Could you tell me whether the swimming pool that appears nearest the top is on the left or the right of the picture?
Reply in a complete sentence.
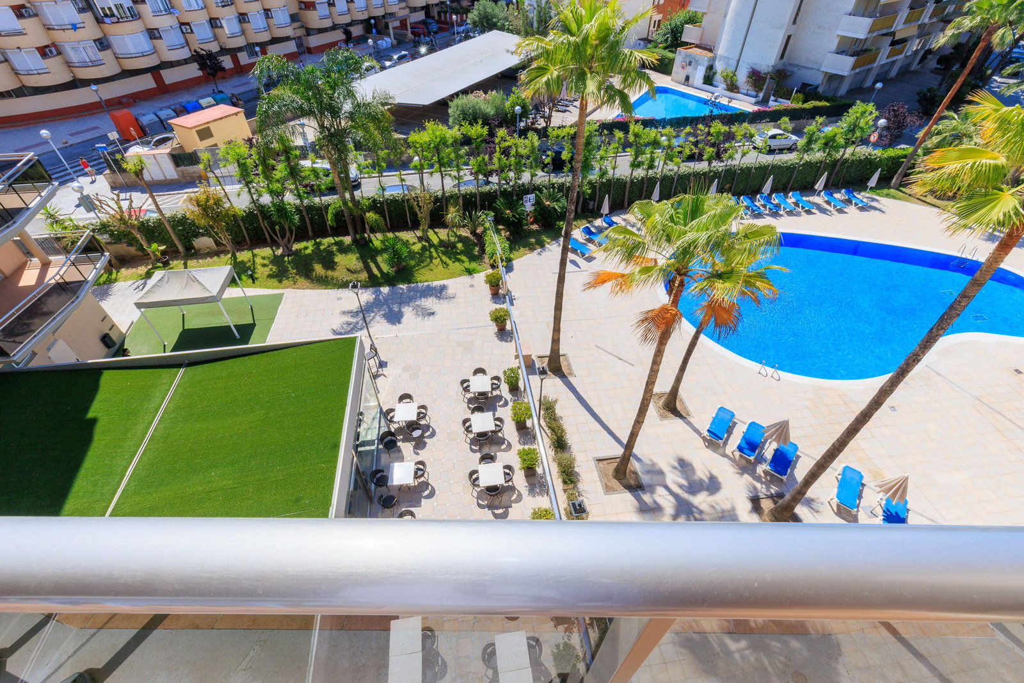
The swimming pool that appears nearest the top sits on the right side.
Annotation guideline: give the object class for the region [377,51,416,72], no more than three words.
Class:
car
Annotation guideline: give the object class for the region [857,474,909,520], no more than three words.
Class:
umbrella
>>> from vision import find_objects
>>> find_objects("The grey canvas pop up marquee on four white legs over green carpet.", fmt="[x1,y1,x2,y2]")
[129,264,252,351]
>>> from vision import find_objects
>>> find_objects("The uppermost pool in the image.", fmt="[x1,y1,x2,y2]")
[615,85,750,120]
